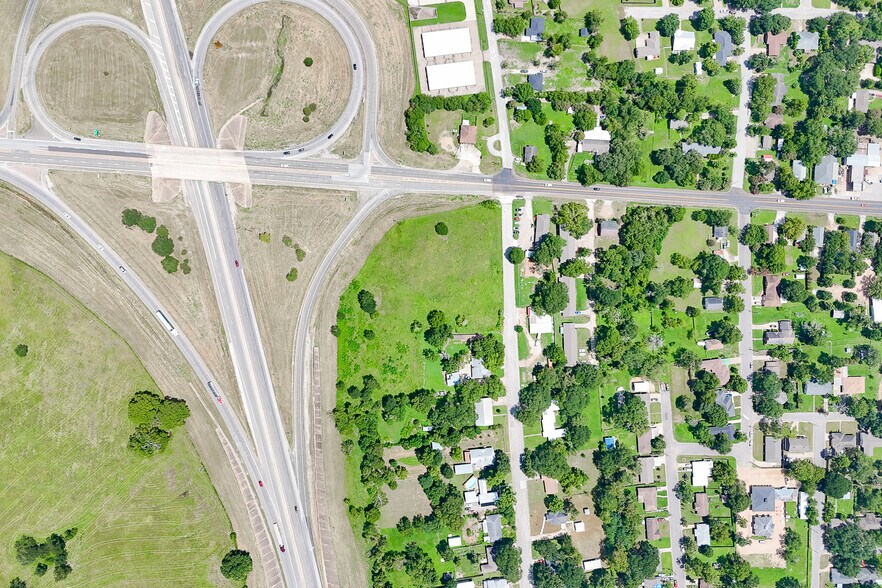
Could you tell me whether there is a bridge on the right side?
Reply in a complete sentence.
No, there is no bridge on the right side.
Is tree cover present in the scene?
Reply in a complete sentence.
Yes, tree cover can be seen from above here.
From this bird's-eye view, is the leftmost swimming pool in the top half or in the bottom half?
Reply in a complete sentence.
The leftmost swimming pool sits in the bottom half of the picture.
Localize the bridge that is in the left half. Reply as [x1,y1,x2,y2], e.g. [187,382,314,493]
[145,144,250,183]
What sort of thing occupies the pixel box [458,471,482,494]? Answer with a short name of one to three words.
swimming pool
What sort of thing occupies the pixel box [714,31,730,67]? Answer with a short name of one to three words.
house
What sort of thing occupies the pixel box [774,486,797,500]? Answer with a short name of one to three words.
house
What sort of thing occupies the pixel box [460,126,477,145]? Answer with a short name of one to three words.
building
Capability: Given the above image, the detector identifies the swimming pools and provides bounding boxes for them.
[458,471,482,494]
[606,438,616,449]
